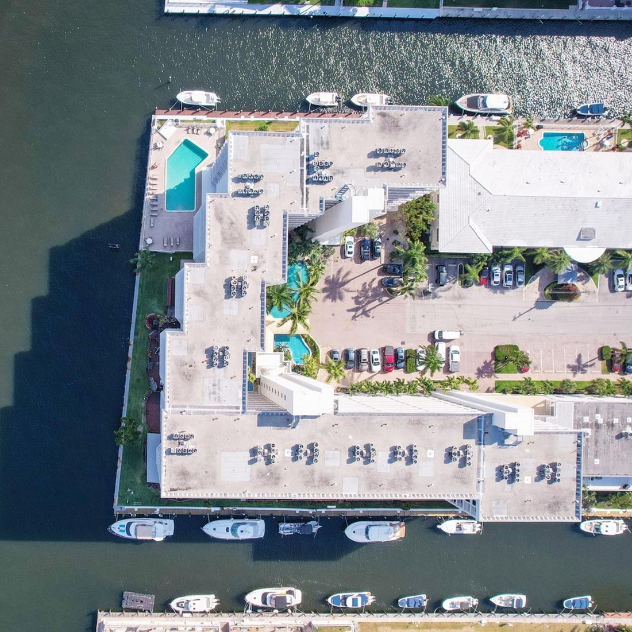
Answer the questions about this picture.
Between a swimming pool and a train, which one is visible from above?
swimming pool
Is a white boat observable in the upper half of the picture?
Yes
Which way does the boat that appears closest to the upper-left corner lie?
horizontally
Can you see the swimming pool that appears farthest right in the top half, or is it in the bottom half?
top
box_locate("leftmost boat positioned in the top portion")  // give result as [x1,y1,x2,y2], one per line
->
[176,86,221,106]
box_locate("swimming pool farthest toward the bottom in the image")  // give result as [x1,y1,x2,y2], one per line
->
[272,333,311,364]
